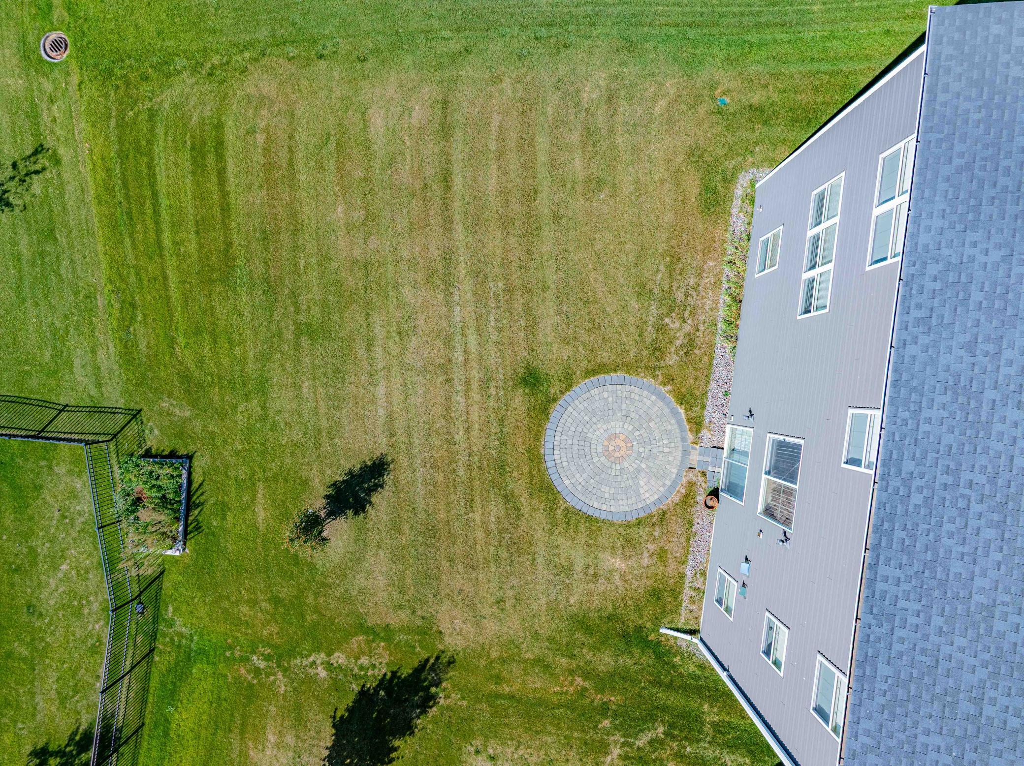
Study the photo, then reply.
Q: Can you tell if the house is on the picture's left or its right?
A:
right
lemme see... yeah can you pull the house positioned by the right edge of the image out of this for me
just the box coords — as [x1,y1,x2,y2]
[662,1,1024,766]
